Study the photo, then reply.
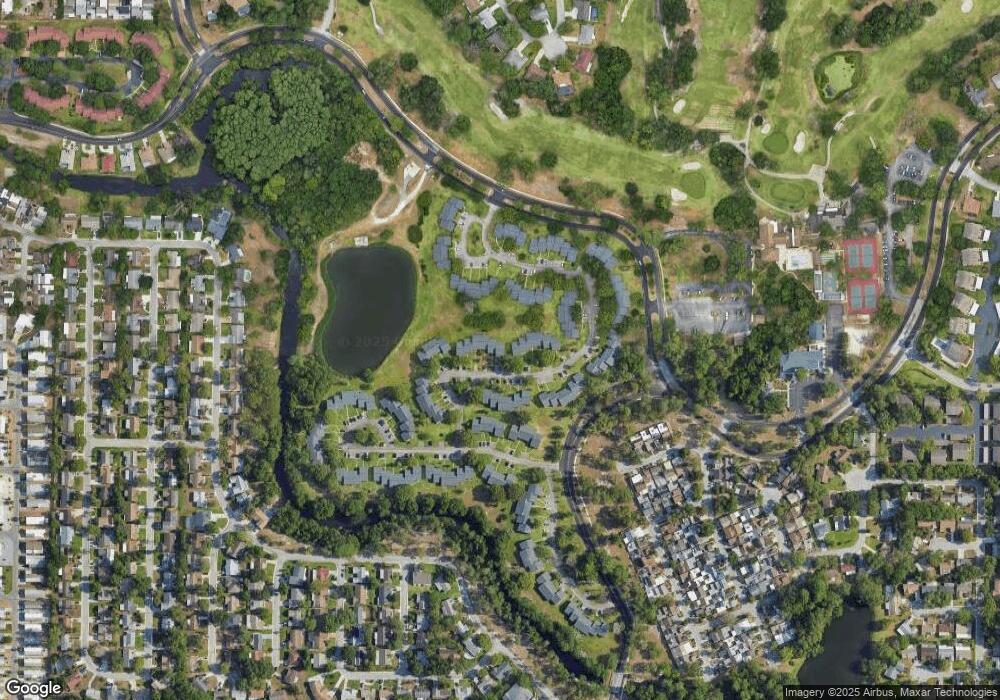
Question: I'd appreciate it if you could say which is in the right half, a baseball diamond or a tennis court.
tennis court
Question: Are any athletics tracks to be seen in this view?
No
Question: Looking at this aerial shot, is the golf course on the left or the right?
right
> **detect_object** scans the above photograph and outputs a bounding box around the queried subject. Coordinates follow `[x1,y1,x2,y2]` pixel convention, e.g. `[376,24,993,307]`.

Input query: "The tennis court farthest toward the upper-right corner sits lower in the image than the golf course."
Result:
[845,238,877,273]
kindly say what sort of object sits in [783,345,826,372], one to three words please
building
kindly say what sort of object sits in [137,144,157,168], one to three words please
house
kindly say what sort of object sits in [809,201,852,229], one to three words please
building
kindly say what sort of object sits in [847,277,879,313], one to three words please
tennis court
